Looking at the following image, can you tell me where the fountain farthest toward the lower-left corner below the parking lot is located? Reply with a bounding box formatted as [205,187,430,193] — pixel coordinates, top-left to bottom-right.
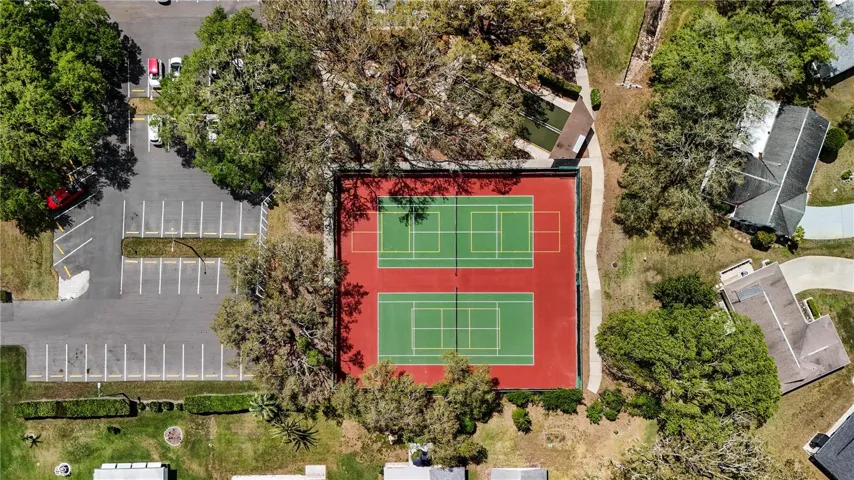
[54,462,71,478]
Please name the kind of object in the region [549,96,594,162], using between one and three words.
building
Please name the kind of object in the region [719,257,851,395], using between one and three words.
house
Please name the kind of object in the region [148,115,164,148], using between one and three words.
car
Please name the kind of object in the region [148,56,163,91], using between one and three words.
vehicle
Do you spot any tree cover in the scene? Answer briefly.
Yes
